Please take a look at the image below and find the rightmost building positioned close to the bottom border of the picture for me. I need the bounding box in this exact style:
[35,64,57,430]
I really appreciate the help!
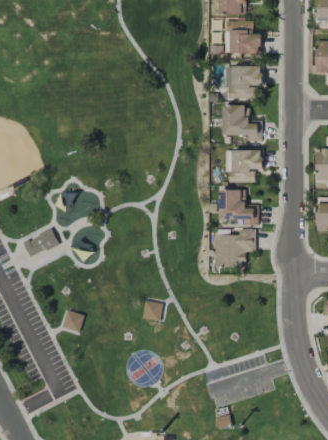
[216,407,234,428]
